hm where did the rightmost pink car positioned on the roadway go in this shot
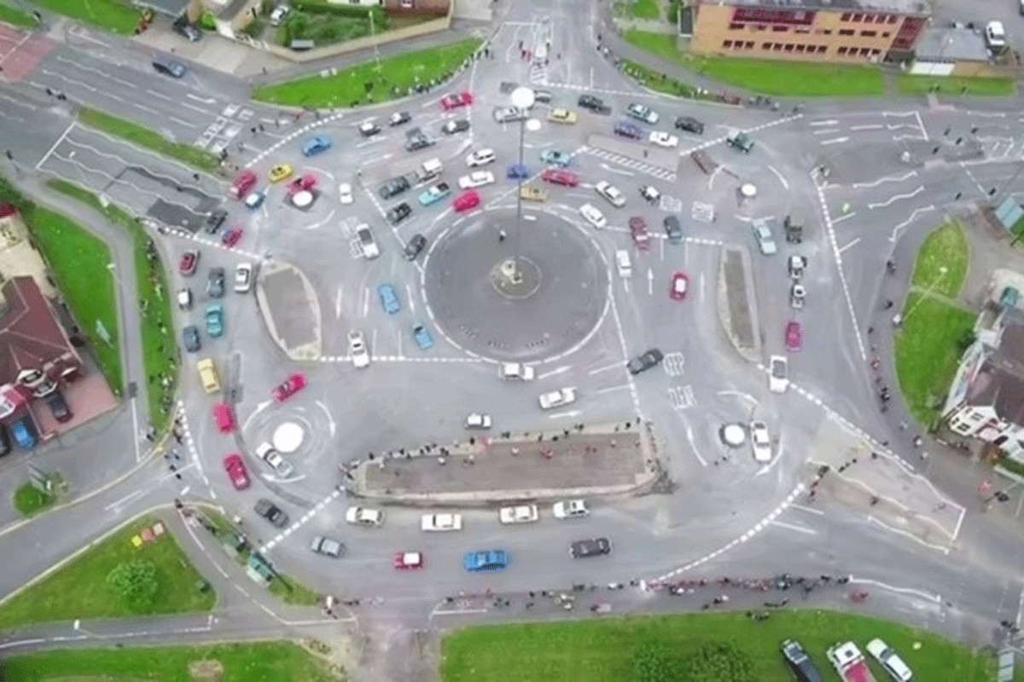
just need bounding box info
[785,322,803,352]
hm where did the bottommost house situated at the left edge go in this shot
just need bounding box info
[0,275,91,424]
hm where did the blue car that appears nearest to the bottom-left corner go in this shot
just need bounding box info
[7,414,40,449]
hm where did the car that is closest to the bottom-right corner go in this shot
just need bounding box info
[865,636,915,682]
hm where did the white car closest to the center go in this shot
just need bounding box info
[497,364,535,381]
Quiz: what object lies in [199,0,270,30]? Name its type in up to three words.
house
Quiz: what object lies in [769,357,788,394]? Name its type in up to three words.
vehicle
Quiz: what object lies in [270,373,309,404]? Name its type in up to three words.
car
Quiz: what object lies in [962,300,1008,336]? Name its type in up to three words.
shed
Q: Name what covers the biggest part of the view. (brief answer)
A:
paved ground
